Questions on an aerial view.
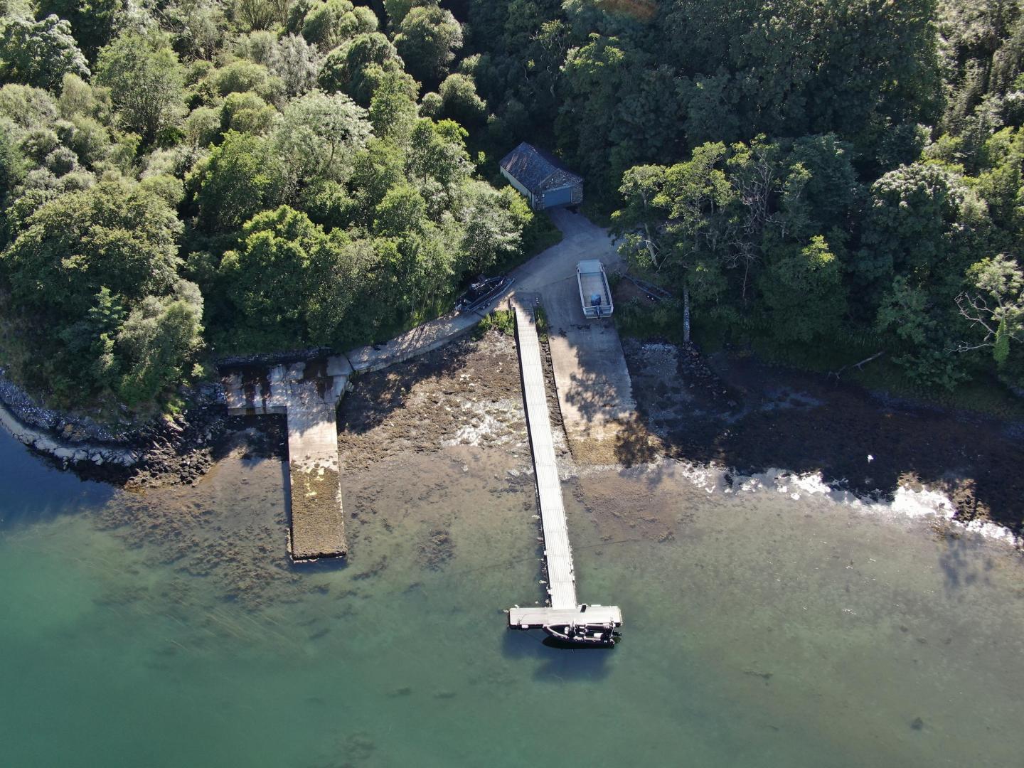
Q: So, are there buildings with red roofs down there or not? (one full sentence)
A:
No, no building with a red roof is visible in the view.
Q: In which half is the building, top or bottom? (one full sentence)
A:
Seen from above, the building lies in the top half of the view.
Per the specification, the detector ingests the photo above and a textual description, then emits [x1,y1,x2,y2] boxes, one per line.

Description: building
[500,135,582,212]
